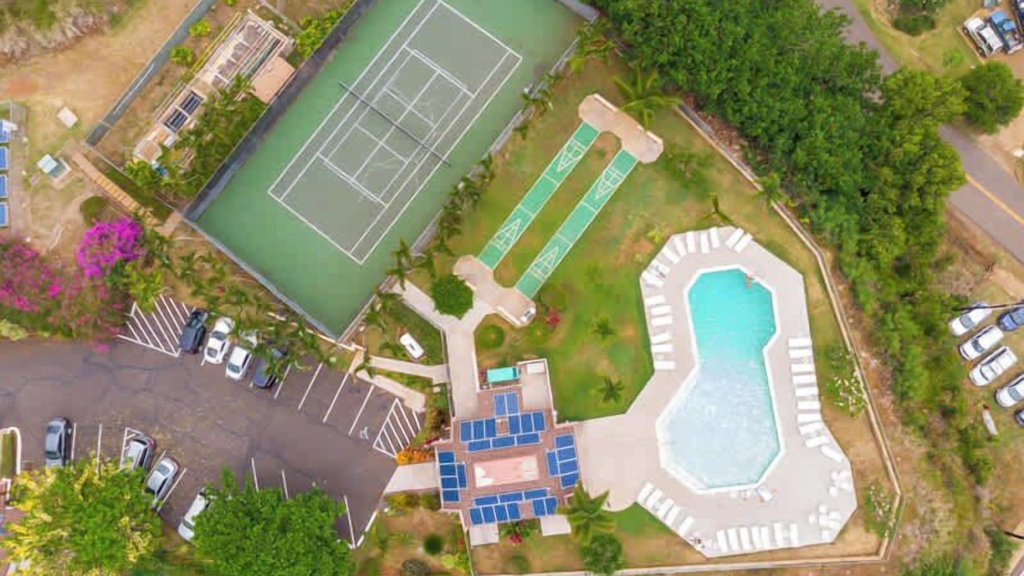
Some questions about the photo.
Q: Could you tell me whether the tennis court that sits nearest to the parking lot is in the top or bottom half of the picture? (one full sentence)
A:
It is in the top half that the tennis court that sits nearest to the parking lot appears.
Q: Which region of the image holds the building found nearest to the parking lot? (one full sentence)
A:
The building found nearest to the parking lot is in the bottom part of the image.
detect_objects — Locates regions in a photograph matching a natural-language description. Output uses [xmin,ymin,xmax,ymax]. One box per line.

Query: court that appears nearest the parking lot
[198,0,584,335]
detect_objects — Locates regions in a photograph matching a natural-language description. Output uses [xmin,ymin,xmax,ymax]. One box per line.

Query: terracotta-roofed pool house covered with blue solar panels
[434,385,583,530]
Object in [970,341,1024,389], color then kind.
white vehicle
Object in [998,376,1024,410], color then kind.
white car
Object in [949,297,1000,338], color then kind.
white car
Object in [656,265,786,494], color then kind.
white swimming pool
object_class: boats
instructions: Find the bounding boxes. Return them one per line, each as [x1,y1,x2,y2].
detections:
[985,406,997,435]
